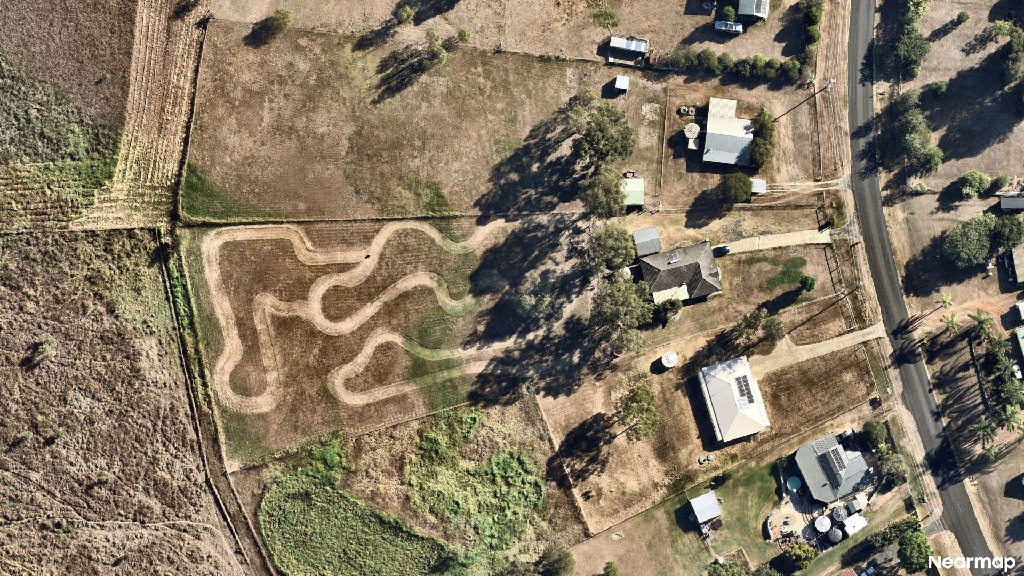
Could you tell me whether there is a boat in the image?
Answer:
No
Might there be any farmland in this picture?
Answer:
Yes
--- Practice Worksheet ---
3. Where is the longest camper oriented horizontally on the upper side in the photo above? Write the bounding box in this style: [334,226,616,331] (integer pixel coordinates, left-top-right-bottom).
[715,21,743,34]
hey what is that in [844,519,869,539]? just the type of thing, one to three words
camper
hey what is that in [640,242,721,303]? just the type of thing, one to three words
house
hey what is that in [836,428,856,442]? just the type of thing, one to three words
vehicle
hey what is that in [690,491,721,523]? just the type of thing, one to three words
shed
